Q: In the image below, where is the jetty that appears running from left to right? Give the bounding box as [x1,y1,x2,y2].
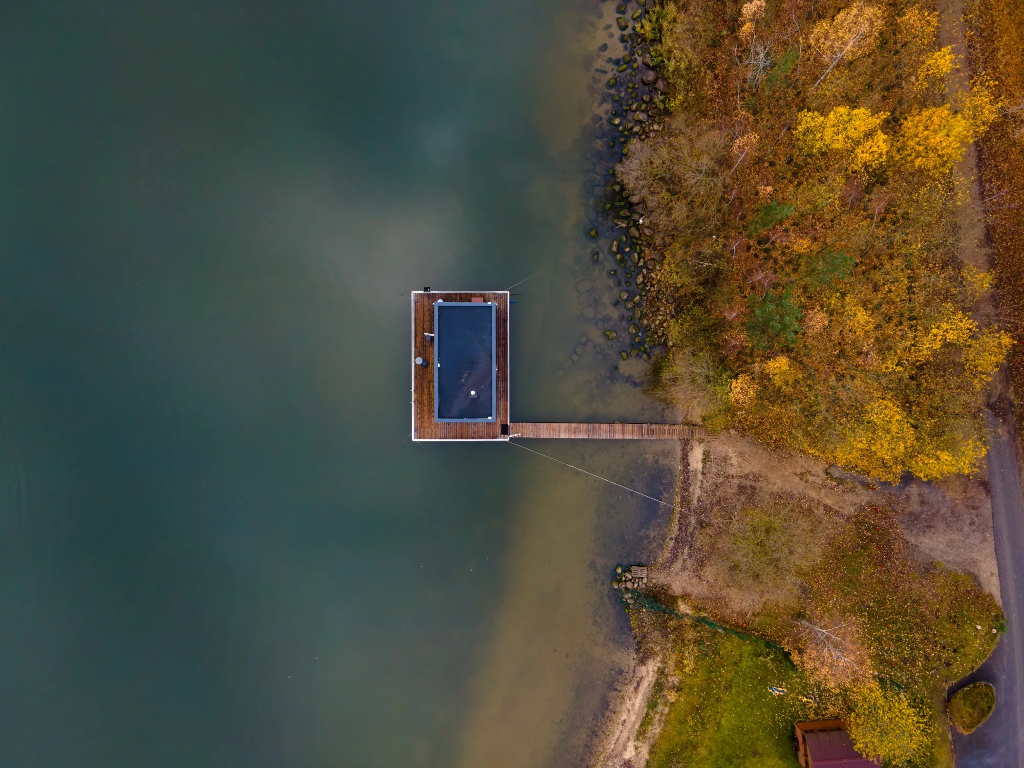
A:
[510,423,707,440]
